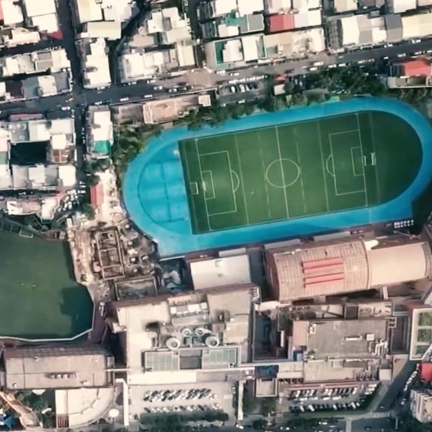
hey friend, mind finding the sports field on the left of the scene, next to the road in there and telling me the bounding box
[0,228,93,341]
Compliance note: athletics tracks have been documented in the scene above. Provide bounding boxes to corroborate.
[123,97,432,256]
